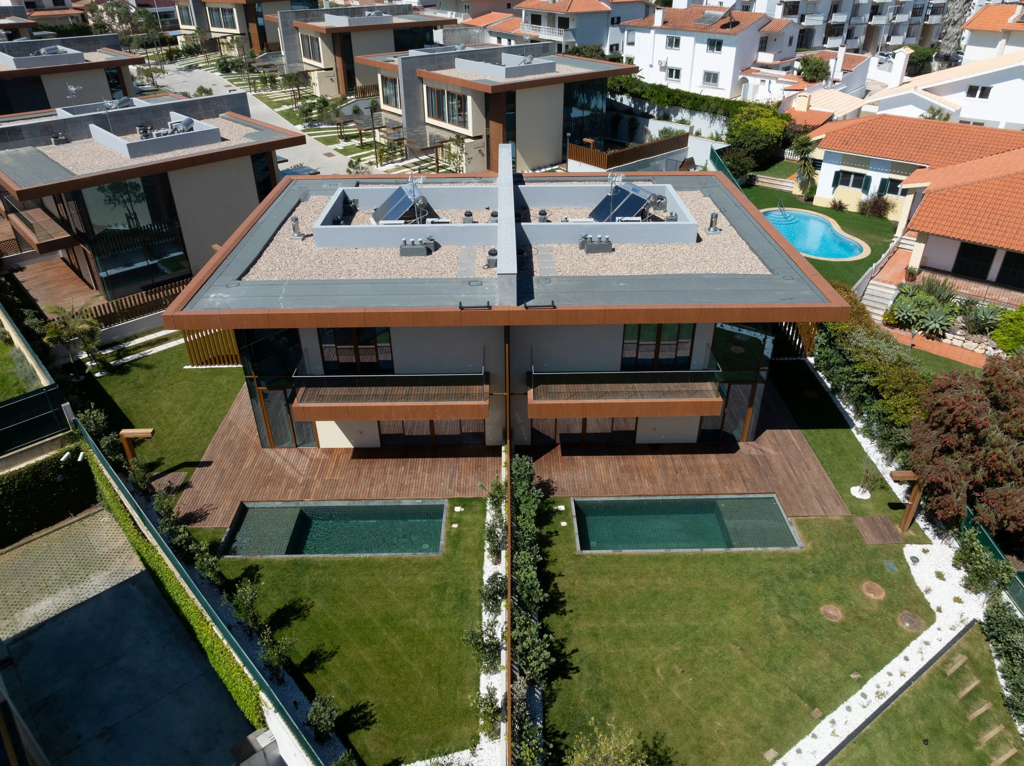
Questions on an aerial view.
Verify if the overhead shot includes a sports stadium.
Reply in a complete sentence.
No, there is no sports stadium in the image.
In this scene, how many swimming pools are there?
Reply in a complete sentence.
The photo contains 3 swimming pools.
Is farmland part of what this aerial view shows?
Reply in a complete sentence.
No, farmland can't be seen anywhere here.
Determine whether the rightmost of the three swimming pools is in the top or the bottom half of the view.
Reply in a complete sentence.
The rightmost of the three swimming pools sits in the top half of the picture.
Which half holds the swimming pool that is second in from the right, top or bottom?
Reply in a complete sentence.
The swimming pool that is second in from the right is in the bottom half of the image.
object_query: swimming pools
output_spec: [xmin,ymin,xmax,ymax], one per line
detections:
[572,493,804,554]
[221,498,447,560]
[761,198,870,260]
